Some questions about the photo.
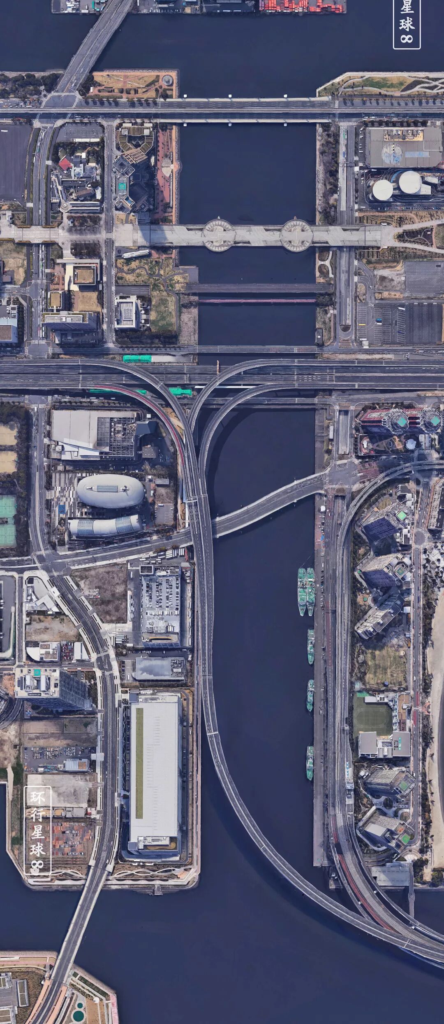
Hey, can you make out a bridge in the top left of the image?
Yes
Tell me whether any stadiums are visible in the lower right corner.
No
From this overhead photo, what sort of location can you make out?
port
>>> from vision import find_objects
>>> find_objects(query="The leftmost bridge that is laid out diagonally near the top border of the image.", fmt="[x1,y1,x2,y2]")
[59,0,132,97]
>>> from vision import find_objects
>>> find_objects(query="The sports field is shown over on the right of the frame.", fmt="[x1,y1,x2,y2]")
[353,693,392,737]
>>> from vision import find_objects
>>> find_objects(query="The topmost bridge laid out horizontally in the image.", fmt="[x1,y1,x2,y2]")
[164,98,332,122]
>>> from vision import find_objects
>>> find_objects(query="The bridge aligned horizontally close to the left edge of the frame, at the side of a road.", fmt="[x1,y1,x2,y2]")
[14,223,58,243]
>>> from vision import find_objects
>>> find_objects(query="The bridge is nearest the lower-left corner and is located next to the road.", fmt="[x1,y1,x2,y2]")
[50,862,109,982]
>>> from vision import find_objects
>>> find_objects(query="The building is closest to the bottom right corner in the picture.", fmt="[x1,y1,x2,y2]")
[370,863,410,886]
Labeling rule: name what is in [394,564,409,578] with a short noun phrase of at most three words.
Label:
helipad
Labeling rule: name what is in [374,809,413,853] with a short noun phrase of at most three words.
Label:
building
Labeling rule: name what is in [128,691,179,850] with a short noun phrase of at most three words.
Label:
building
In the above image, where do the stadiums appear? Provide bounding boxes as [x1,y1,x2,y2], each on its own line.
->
[77,475,146,509]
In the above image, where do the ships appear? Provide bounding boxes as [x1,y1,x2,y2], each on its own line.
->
[298,568,306,616]
[306,745,313,780]
[306,568,315,616]
[308,629,314,664]
[307,679,314,712]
